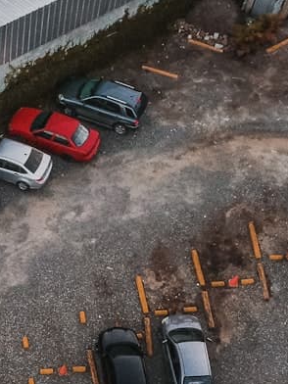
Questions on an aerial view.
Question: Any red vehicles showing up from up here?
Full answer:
Yes, a red vehicle appears in the view.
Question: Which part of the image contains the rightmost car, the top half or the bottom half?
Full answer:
The rightmost car sits in the bottom half of the picture.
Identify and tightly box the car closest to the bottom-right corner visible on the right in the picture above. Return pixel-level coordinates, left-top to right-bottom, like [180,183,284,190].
[160,314,218,384]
